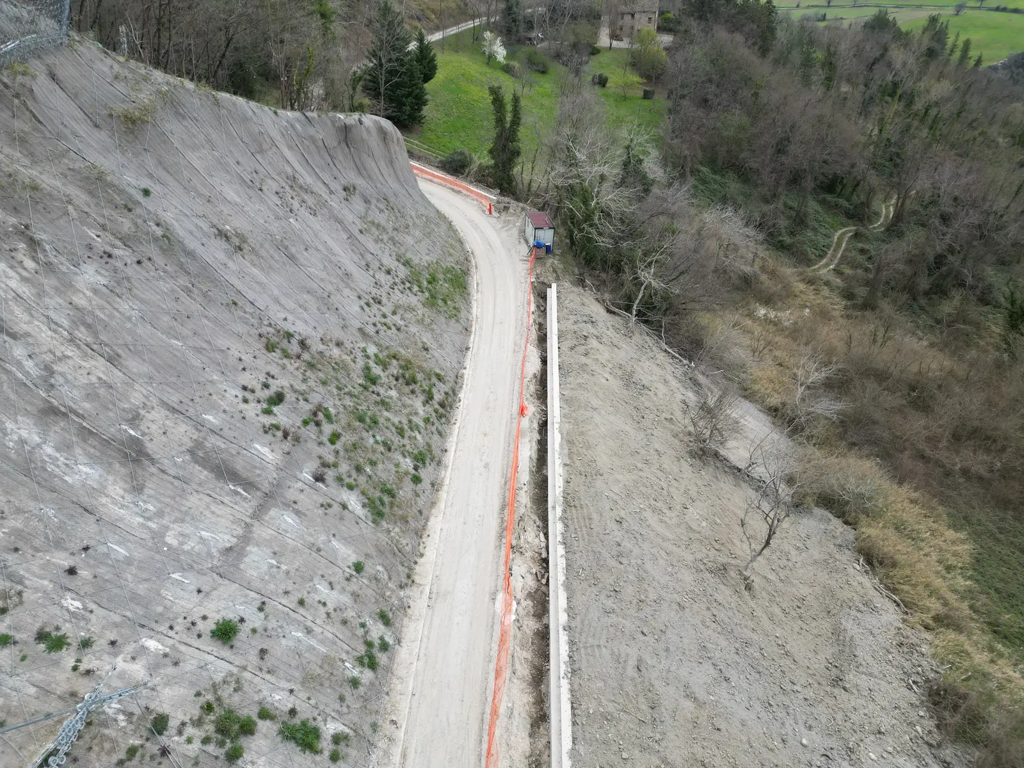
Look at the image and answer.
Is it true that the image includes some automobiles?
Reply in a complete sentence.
No, there appears to be no automobile in this shot.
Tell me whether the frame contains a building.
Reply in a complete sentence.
Yes, you can see a building in this photo.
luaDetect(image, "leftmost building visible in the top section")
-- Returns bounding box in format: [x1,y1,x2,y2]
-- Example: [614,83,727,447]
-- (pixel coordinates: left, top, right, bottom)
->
[529,213,554,250]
